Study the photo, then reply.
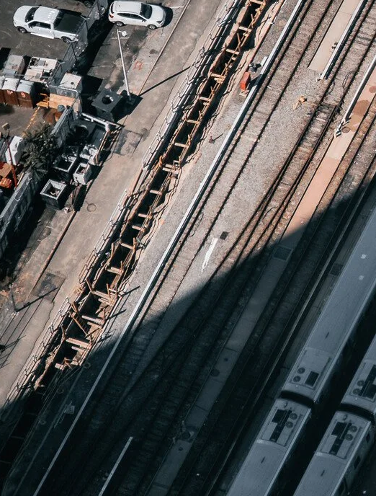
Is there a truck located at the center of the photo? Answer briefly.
No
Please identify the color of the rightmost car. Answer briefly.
white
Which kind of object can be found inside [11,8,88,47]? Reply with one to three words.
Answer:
truck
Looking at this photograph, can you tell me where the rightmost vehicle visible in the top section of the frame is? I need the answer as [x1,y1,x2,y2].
[106,0,169,35]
